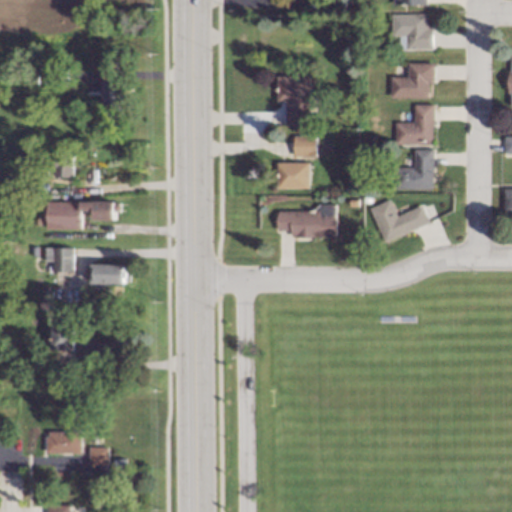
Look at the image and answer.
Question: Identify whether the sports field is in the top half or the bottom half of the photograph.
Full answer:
The sports field sits in the bottom half of the picture.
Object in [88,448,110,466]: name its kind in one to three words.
building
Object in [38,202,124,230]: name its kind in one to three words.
house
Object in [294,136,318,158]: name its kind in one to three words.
building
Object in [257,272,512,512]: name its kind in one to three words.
sports field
